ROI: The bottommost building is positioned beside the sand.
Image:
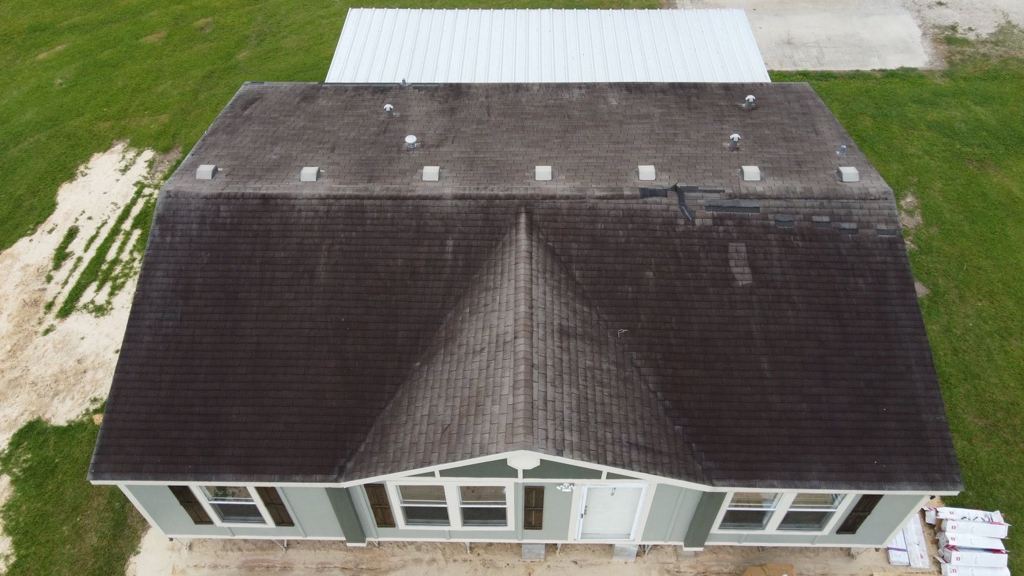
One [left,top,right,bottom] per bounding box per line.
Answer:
[87,73,964,560]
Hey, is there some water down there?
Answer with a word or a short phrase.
No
